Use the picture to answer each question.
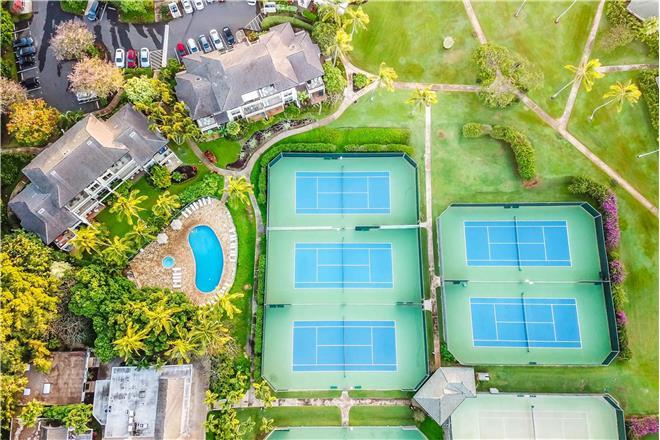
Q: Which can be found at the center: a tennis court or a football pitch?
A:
tennis court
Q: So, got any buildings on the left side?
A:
Yes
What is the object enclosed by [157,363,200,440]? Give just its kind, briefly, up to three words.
building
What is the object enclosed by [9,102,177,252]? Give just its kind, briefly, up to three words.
building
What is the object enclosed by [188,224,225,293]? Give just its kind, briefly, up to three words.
swimming pool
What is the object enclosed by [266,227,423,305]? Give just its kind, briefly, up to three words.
tennis court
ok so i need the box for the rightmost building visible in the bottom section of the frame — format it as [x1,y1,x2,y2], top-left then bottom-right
[414,367,476,426]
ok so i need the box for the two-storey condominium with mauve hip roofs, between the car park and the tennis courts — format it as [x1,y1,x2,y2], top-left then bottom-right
[173,21,326,137]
